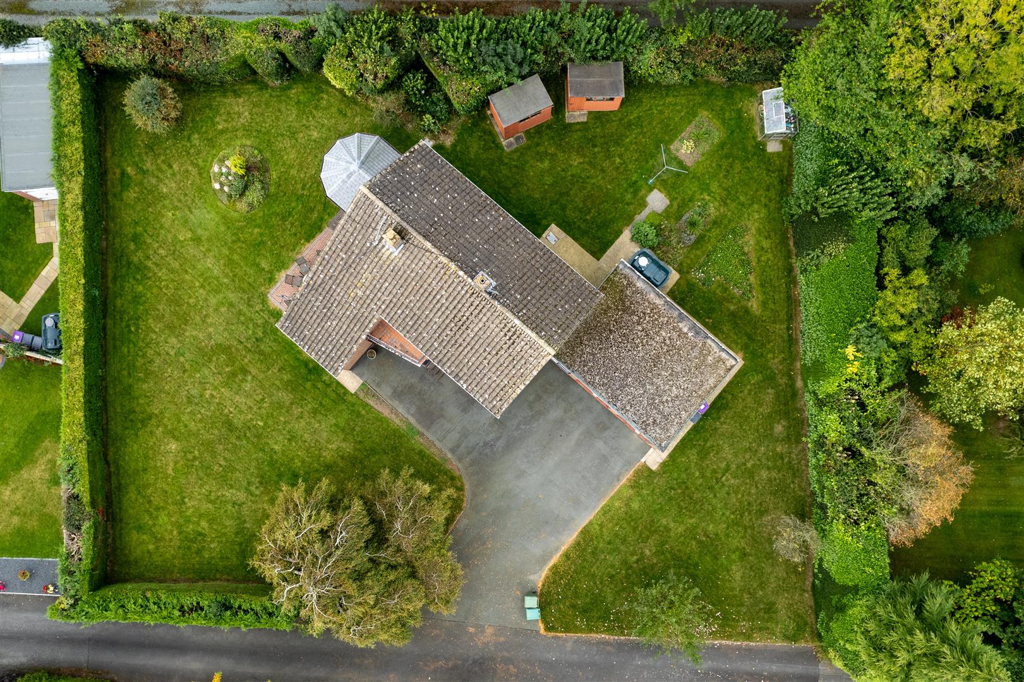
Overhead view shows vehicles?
No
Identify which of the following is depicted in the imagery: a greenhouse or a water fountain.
greenhouse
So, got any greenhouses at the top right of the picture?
Yes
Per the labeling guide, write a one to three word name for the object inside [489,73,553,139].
shed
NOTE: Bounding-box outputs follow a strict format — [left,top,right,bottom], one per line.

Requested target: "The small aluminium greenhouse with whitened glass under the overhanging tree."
[755,81,810,138]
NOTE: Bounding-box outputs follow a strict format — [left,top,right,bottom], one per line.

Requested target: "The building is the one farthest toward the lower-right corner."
[550,259,742,451]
